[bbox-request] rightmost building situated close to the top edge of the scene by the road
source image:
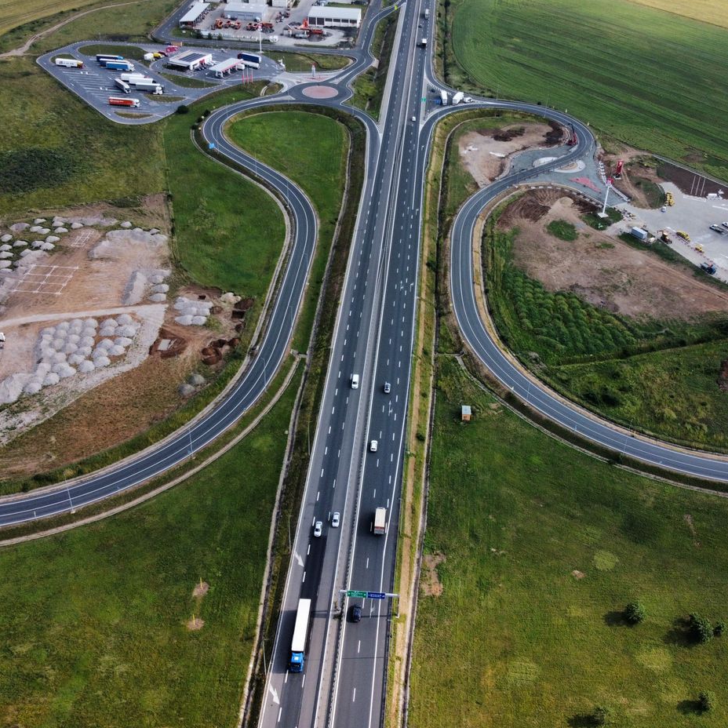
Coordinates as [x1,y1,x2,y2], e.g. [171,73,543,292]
[307,7,366,28]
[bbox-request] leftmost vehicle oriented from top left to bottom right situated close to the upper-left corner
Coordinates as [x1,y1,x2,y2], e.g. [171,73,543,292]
[114,77,131,94]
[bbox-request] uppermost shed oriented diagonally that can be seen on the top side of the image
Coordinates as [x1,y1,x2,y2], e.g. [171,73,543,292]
[178,1,210,28]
